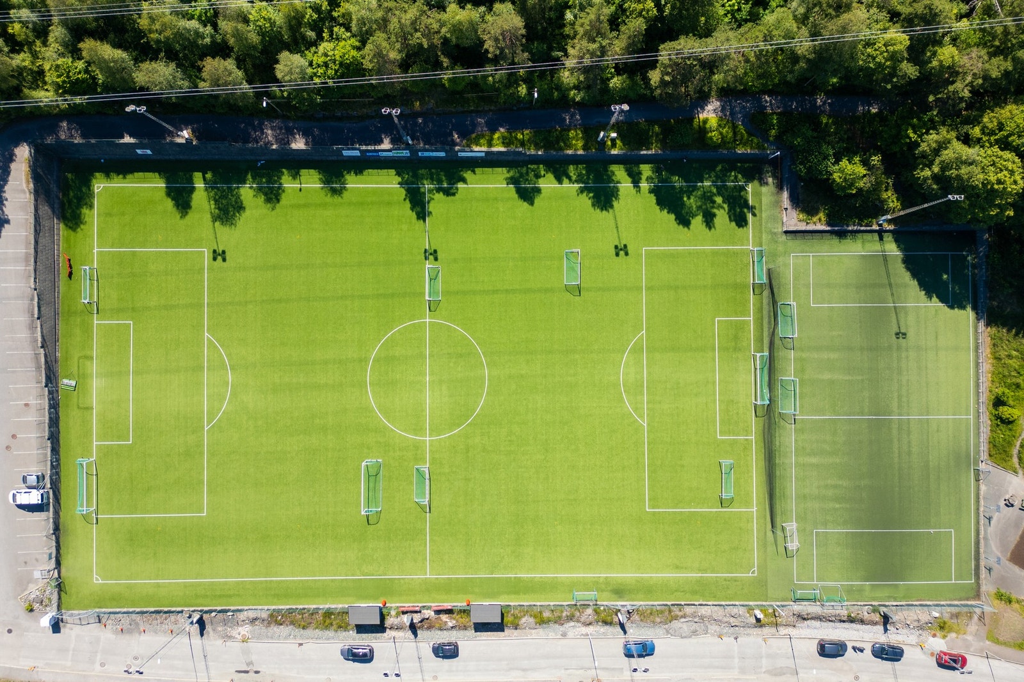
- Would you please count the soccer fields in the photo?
2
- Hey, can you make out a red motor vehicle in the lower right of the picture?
Yes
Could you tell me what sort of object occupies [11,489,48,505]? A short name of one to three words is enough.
vehicle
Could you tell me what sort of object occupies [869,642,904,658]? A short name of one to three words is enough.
car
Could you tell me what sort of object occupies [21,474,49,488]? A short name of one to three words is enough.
car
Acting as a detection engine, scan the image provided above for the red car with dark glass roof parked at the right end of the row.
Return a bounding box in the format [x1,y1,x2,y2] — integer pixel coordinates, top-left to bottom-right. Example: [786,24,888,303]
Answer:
[934,649,967,668]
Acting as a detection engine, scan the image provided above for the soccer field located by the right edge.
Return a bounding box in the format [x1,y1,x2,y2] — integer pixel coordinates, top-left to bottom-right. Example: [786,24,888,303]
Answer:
[762,157,982,605]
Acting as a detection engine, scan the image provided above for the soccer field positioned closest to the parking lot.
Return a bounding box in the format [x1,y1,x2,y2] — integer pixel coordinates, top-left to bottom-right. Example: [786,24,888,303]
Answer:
[57,156,767,610]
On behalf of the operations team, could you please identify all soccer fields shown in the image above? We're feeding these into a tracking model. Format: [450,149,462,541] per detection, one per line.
[762,157,982,605]
[57,156,767,610]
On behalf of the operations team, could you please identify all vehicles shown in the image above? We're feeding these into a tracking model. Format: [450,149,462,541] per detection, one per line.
[21,474,49,488]
[934,649,967,668]
[341,643,374,659]
[869,642,904,658]
[815,639,847,656]
[852,646,867,653]
[432,642,460,657]
[11,489,48,505]
[622,639,654,656]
